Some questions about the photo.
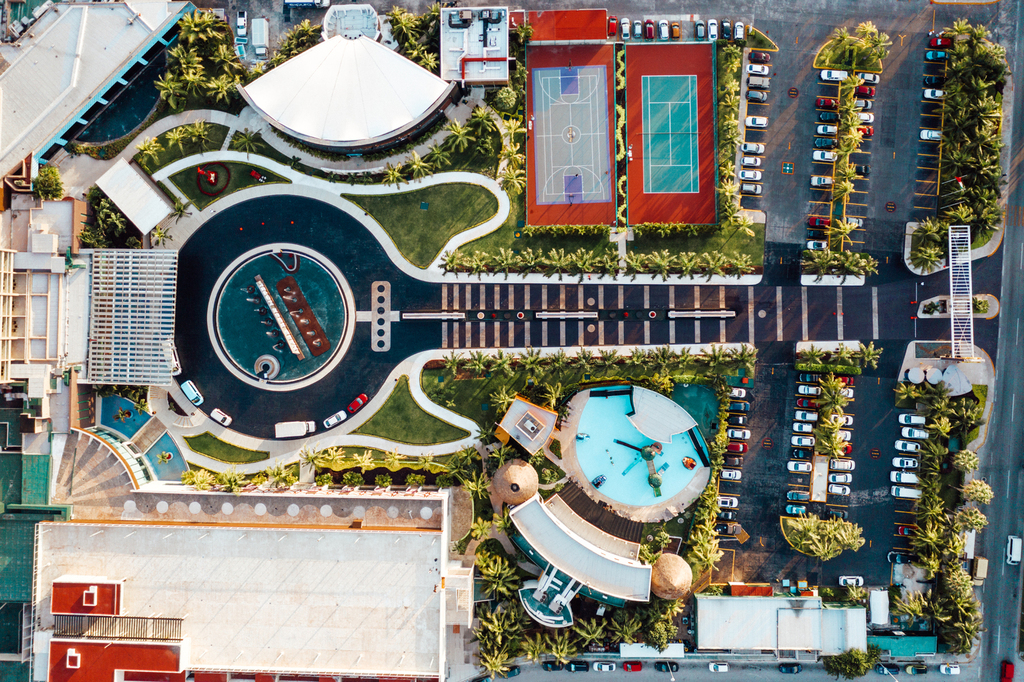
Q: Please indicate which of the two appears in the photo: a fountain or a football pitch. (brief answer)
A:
fountain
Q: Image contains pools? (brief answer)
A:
Yes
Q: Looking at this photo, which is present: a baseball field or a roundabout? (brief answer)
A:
roundabout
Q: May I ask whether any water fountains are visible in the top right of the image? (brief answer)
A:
No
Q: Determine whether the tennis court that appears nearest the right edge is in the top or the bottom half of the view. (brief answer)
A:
top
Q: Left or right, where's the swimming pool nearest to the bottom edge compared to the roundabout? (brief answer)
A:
right of it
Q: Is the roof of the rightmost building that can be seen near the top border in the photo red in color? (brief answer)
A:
Yes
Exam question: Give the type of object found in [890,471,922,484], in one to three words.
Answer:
vehicle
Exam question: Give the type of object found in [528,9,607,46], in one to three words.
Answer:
building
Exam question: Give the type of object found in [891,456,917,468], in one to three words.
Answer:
vehicle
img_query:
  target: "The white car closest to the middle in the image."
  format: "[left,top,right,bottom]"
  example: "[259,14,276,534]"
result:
[324,411,346,428]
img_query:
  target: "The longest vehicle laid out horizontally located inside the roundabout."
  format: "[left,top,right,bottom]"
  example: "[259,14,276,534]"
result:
[275,420,320,438]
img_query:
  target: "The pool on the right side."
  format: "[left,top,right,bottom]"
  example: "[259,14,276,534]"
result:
[561,385,711,522]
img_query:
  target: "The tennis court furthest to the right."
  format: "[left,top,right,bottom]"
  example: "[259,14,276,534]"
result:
[627,45,716,223]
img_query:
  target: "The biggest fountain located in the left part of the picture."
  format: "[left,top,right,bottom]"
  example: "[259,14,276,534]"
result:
[207,242,356,391]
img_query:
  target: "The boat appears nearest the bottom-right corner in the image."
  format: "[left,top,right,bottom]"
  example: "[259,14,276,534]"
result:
[681,455,696,469]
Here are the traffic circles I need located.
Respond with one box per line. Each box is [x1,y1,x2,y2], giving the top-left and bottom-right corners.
[132,194,444,440]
